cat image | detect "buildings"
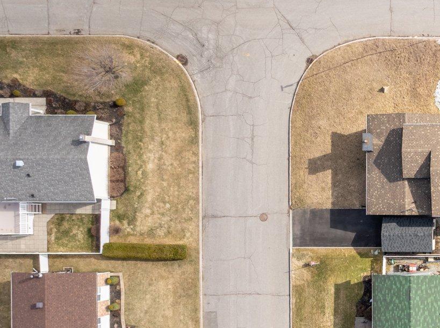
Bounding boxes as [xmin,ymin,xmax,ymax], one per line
[11,273,112,328]
[380,218,436,253]
[361,113,440,217]
[0,101,114,201]
[372,275,440,328]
